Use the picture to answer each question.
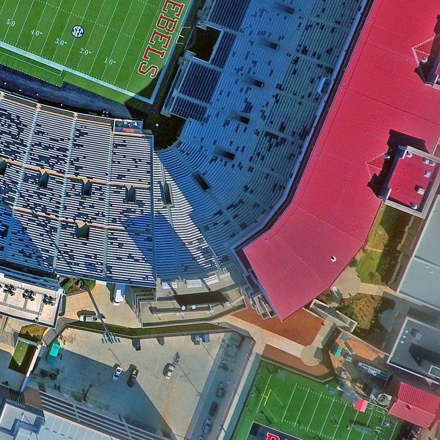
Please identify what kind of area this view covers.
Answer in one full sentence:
The picture captures a sports ground.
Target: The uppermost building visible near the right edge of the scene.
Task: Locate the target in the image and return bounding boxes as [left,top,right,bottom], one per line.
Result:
[375,181,440,311]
